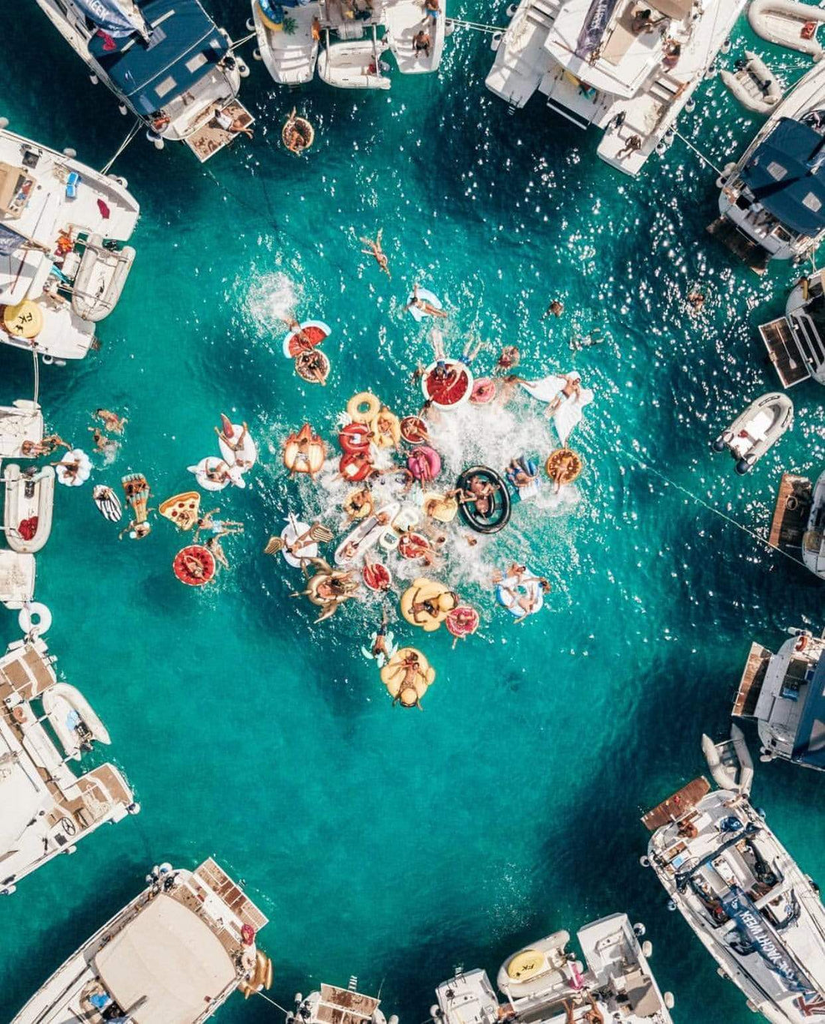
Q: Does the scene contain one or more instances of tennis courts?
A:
No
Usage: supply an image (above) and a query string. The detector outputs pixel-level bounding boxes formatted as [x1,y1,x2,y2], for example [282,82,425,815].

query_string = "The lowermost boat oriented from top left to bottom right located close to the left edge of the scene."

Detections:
[34,685,110,769]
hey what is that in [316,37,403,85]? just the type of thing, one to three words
boat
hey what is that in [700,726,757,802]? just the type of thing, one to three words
boat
